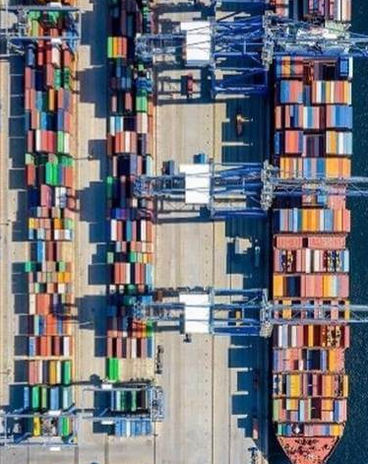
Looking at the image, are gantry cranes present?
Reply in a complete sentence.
Yes, you can see a gantry crane in this photo.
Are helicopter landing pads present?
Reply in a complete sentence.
No, the photo shows no helicopter landing pad.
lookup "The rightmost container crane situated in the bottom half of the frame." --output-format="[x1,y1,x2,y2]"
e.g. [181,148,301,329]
[137,282,368,344]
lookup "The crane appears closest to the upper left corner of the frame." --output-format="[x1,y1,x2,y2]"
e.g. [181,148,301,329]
[7,0,89,44]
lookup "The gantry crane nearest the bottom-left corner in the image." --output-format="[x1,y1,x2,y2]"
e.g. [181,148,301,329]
[5,407,85,451]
